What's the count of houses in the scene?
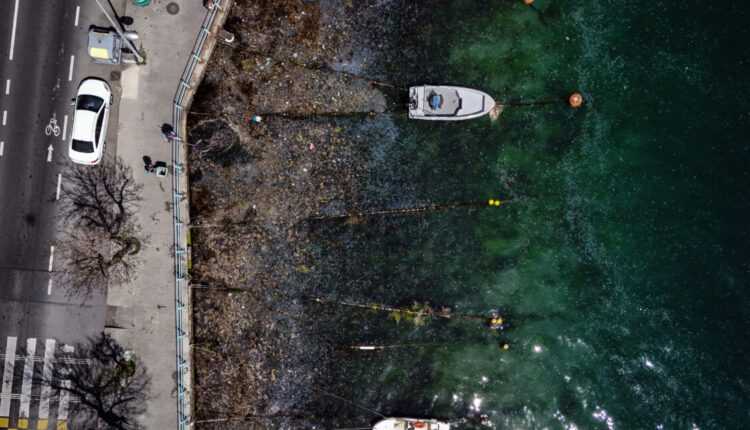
zero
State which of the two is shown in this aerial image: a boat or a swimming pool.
boat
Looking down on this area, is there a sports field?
No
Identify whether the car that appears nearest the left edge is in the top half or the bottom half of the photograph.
top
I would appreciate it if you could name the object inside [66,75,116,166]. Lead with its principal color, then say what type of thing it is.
white car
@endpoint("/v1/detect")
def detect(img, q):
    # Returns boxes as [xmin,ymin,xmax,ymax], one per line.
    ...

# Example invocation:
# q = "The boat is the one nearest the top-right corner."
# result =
[408,84,497,122]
